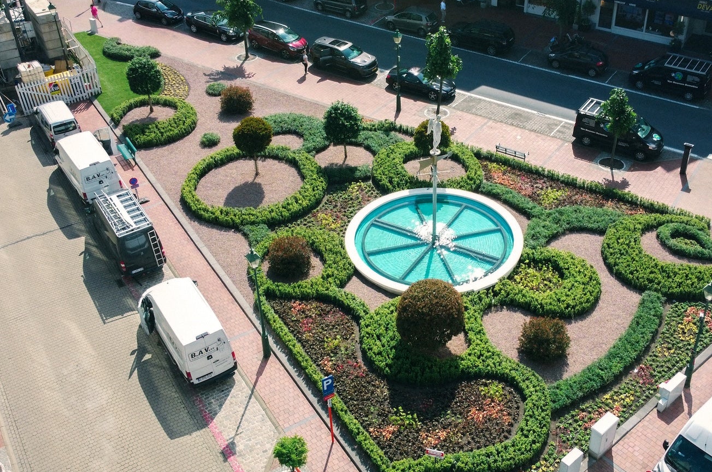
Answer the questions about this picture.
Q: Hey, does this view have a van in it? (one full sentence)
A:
Yes, a van is visible in the scene.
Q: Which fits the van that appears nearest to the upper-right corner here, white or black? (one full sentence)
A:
The van that appears nearest to the upper-right corner is black.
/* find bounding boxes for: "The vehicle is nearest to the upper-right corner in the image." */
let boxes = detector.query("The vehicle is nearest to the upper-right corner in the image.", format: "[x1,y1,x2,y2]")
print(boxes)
[628,51,712,99]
